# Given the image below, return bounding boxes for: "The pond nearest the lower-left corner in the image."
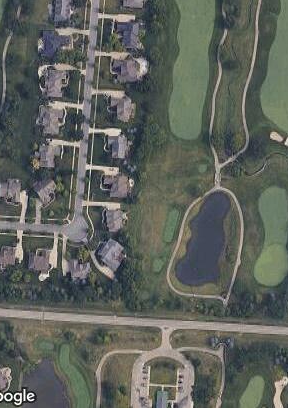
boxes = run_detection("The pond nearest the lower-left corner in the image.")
[17,359,72,408]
